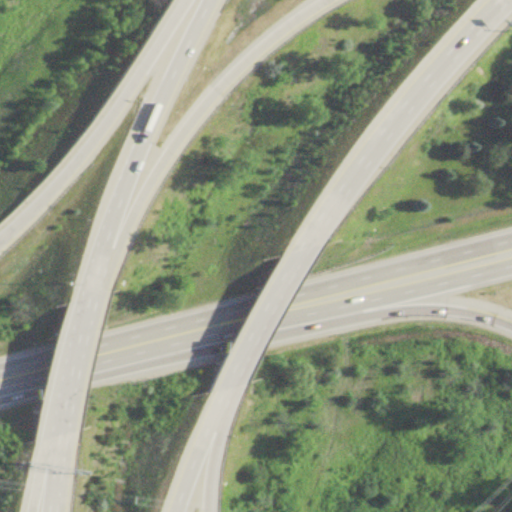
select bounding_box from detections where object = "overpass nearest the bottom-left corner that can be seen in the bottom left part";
[34,303,111,443]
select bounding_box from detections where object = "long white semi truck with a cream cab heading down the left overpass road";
[142,101,164,144]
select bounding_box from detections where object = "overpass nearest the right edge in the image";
[210,260,318,391]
